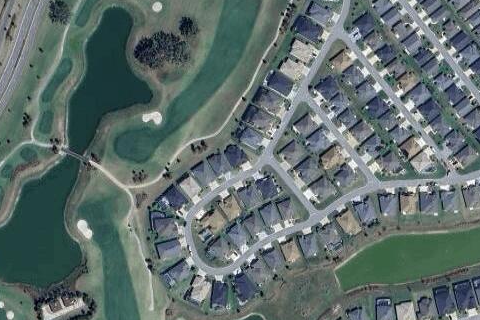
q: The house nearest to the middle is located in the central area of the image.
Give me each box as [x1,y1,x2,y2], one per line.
[222,142,245,169]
